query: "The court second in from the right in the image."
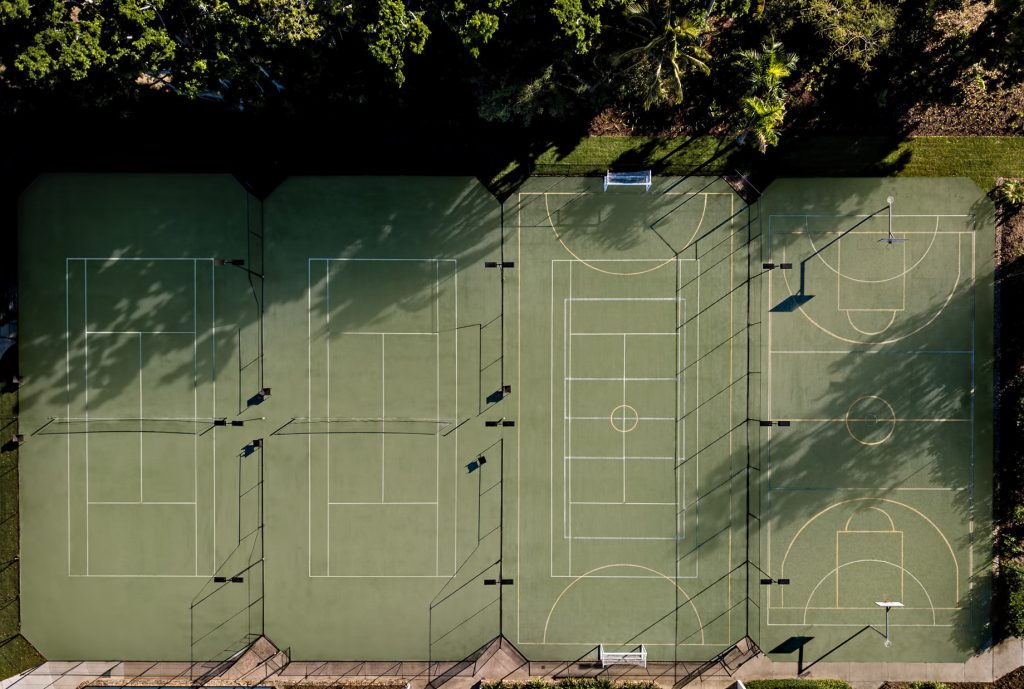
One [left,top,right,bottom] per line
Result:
[502,177,748,659]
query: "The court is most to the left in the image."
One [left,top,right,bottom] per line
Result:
[19,174,263,660]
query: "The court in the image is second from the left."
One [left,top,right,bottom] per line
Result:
[263,177,502,660]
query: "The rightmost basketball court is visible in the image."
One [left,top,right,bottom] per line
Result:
[749,178,997,662]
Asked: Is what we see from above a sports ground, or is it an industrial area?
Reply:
sports ground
